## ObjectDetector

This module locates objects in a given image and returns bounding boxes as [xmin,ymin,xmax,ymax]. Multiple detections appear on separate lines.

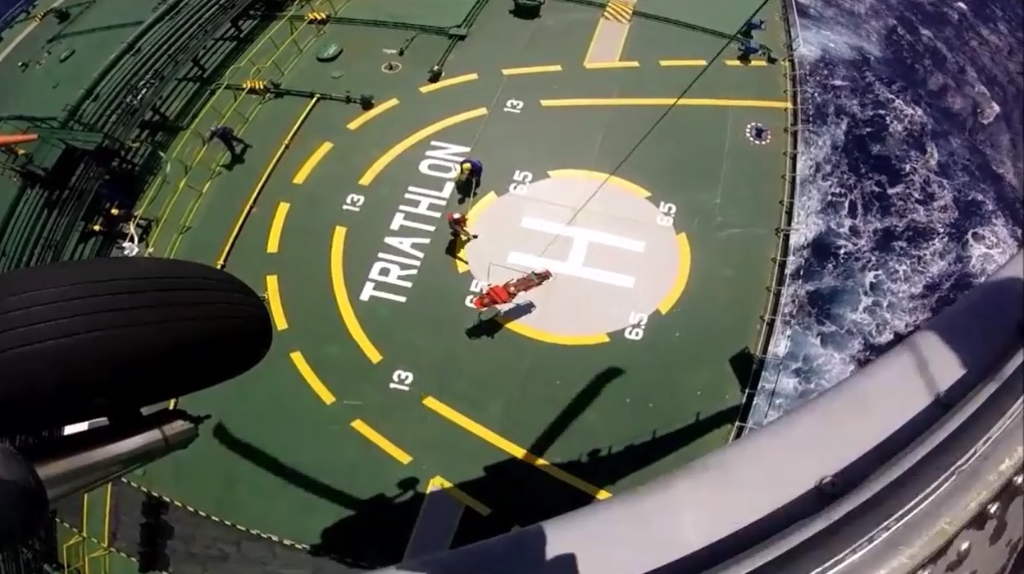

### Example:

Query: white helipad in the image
[266,0,792,569]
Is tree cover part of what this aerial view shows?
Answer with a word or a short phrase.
No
